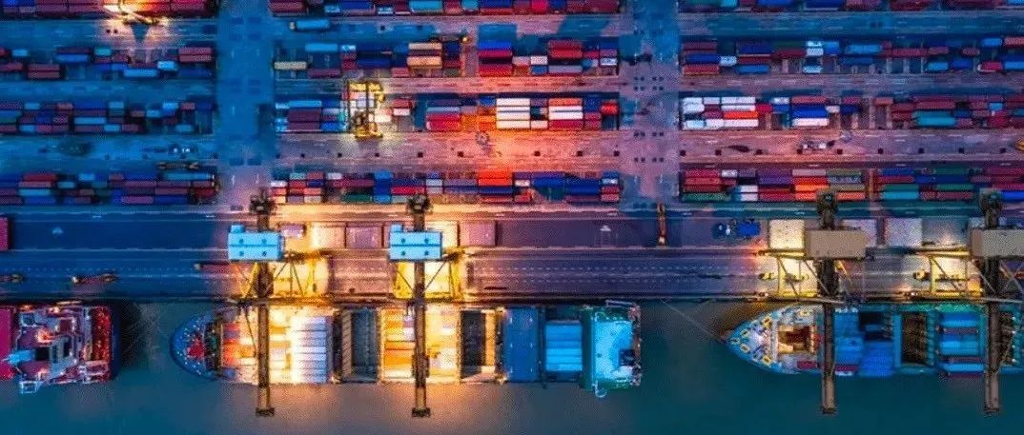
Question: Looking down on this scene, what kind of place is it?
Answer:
port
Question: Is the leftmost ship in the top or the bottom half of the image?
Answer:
bottom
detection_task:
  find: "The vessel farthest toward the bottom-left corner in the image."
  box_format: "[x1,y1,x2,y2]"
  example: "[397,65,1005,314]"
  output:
[0,303,117,397]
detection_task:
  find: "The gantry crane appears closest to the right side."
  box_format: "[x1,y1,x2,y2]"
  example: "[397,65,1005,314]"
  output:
[903,192,1024,419]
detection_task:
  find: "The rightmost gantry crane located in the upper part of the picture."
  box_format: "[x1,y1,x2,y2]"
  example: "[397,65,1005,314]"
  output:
[342,81,384,143]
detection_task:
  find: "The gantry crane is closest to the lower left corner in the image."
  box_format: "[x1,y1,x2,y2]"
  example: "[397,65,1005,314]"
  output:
[228,192,325,421]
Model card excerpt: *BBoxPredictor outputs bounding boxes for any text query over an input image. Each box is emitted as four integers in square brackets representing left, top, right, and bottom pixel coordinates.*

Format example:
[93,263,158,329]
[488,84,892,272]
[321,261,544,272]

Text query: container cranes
[387,192,464,422]
[228,192,325,421]
[342,81,384,143]
[903,192,1024,419]
[758,192,867,417]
